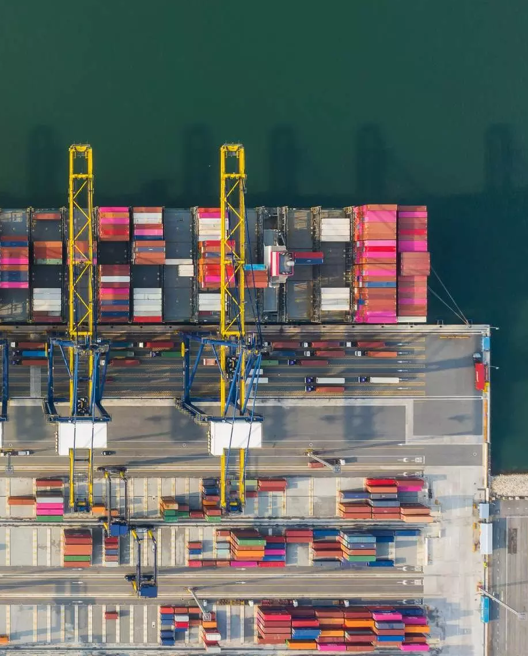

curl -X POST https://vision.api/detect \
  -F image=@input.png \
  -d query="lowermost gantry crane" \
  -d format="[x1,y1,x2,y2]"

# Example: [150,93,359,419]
[126,525,159,600]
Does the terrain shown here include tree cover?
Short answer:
No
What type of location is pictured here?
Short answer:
port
